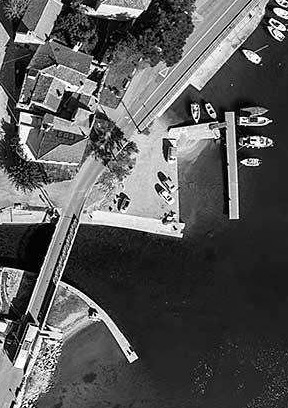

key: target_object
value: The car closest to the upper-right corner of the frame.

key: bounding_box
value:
[168,146,180,162]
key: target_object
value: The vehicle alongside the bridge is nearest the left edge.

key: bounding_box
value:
[18,325,45,372]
